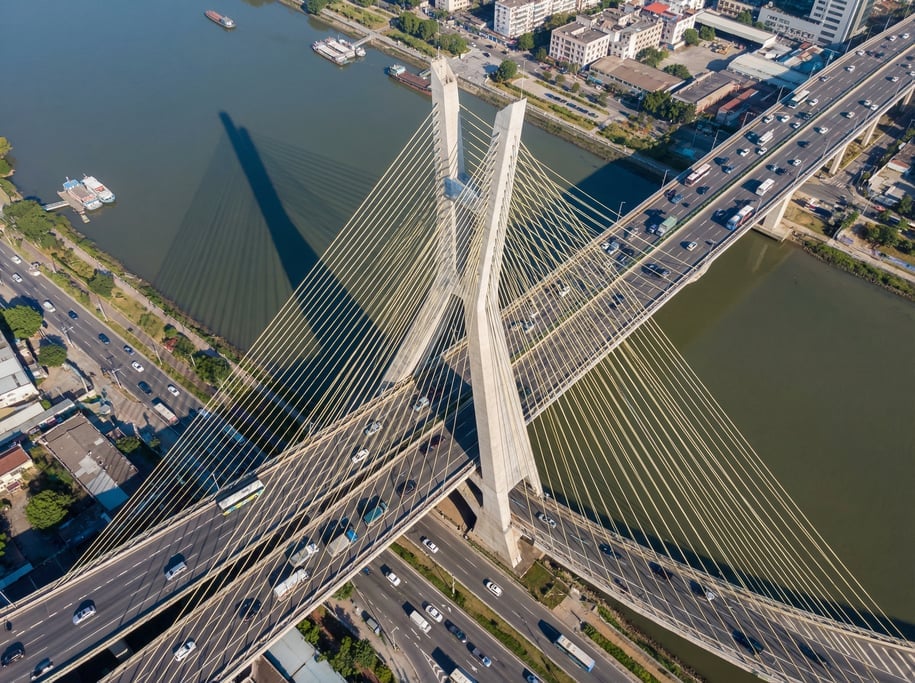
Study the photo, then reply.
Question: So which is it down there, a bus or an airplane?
bus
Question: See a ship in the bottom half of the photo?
No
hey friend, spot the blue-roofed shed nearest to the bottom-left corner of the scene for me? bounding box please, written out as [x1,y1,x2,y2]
[0,561,40,603]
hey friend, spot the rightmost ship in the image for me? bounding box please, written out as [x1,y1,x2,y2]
[386,62,434,97]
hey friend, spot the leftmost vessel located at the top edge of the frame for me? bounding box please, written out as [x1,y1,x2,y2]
[205,13,238,31]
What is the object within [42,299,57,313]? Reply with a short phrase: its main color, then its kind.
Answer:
white vehicle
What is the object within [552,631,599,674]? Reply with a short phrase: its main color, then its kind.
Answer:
white bus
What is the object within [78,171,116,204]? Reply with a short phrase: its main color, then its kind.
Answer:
white ship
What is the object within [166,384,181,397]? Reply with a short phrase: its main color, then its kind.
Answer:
white vehicle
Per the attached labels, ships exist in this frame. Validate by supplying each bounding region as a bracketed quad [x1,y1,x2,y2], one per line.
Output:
[205,13,238,31]
[56,173,103,212]
[326,38,357,58]
[386,62,434,97]
[78,171,116,204]
[314,45,345,68]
